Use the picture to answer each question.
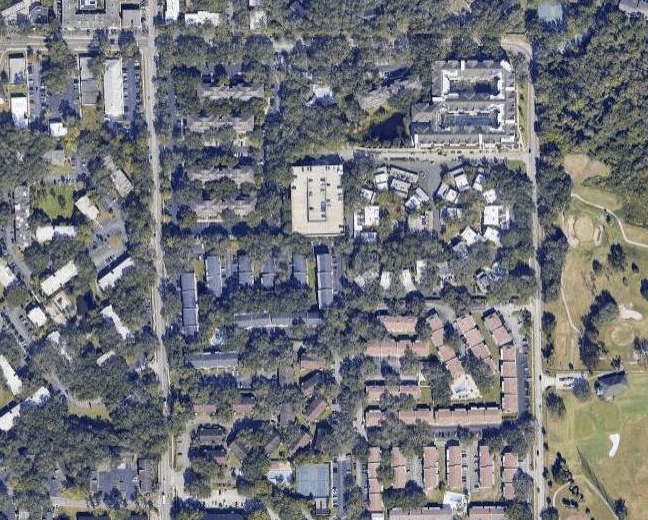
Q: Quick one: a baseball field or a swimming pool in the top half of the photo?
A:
swimming pool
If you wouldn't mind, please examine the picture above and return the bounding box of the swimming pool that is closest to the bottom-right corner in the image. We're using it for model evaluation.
[444,491,466,513]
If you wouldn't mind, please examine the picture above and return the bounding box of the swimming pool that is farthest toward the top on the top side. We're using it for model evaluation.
[313,85,333,105]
